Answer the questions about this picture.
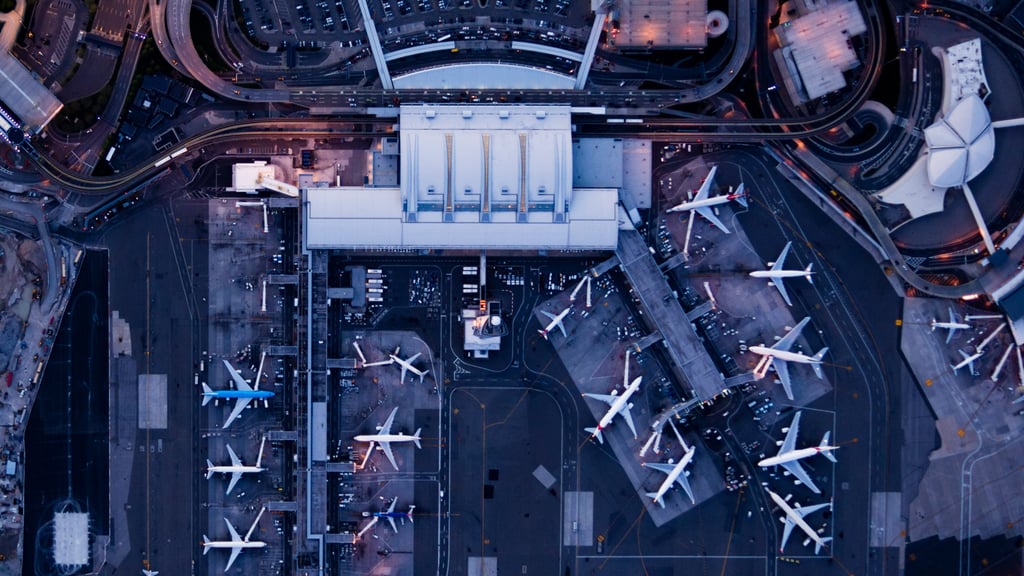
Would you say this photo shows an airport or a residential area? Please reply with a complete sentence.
This looks like an airport.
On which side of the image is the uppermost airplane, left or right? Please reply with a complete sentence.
The uppermost airplane appears in the right half of the scene.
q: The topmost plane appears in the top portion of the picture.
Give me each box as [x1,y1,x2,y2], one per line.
[672,164,747,234]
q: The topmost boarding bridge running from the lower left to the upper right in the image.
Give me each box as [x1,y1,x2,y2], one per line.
[569,274,590,302]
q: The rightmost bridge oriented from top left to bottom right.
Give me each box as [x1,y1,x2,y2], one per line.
[798,146,1024,298]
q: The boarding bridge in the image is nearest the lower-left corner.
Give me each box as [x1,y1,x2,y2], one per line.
[244,506,267,542]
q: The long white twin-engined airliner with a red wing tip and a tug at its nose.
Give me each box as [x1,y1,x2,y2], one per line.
[770,491,835,556]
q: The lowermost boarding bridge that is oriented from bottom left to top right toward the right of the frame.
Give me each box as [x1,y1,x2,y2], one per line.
[639,432,657,457]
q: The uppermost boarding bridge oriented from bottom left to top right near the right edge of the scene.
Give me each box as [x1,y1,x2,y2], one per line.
[973,323,1004,352]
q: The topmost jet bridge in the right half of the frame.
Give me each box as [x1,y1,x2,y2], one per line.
[684,210,696,251]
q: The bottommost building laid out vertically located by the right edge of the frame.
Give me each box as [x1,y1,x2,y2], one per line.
[986,265,1024,352]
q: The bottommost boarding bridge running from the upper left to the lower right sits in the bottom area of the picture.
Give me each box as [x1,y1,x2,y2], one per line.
[668,417,691,450]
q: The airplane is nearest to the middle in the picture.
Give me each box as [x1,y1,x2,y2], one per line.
[537,308,570,340]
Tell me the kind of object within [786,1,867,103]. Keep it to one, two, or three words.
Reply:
building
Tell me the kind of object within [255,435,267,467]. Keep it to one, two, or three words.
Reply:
jet bridge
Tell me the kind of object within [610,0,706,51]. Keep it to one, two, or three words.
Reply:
building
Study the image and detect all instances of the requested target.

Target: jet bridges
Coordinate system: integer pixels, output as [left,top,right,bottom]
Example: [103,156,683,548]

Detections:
[244,506,267,542]
[623,347,630,389]
[586,278,591,307]
[759,356,773,378]
[973,323,1004,352]
[237,202,268,207]
[668,417,691,450]
[684,210,696,251]
[255,435,267,467]
[704,281,716,302]
[639,432,657,457]
[757,355,769,376]
[261,280,268,312]
[262,205,270,232]
[352,340,367,364]
[360,441,375,470]
[1014,348,1024,390]
[357,516,379,539]
[989,343,1014,381]
[964,315,1000,320]
[654,432,662,454]
[362,358,394,368]
[254,350,267,391]
[569,274,590,302]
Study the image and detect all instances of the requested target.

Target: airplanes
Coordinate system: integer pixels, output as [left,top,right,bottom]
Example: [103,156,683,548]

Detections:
[354,406,421,471]
[749,240,816,306]
[749,315,826,402]
[672,164,747,234]
[770,491,835,556]
[373,496,413,534]
[537,308,570,340]
[390,354,428,386]
[952,346,983,377]
[758,411,844,497]
[933,307,969,343]
[200,518,267,573]
[200,360,274,430]
[640,447,695,507]
[582,376,642,443]
[205,444,264,495]
[1013,390,1024,402]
